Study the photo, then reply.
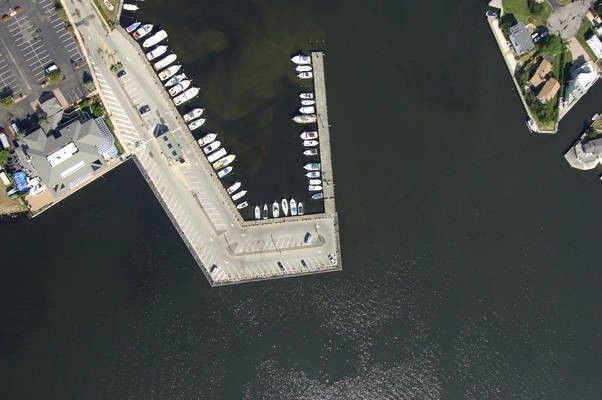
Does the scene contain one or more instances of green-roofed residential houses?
No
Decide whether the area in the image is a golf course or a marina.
marina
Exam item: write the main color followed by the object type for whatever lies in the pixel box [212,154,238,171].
white boat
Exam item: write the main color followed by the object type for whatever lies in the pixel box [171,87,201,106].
white boat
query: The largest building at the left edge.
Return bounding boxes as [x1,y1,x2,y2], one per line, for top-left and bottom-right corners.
[21,96,116,196]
